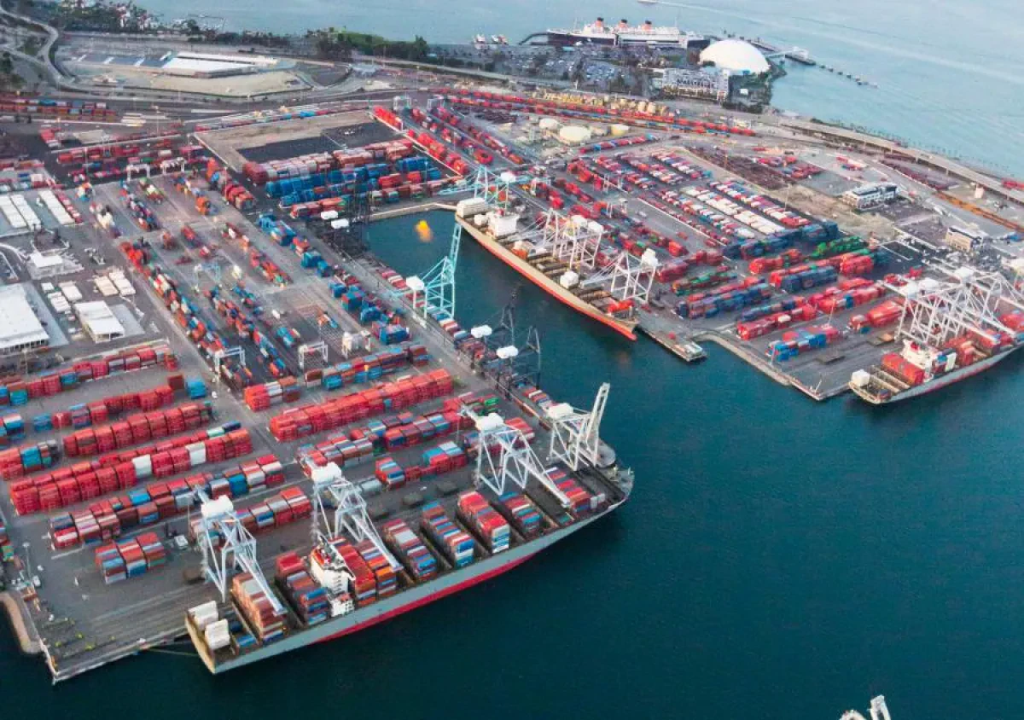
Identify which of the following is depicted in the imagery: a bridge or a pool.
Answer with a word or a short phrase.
bridge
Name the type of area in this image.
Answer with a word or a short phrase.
port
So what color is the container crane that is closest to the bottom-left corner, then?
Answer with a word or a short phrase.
white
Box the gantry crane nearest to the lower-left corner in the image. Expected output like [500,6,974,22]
[196,497,294,620]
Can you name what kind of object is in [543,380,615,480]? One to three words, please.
container crane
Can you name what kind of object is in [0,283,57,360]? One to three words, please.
building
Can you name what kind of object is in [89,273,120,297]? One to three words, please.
building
